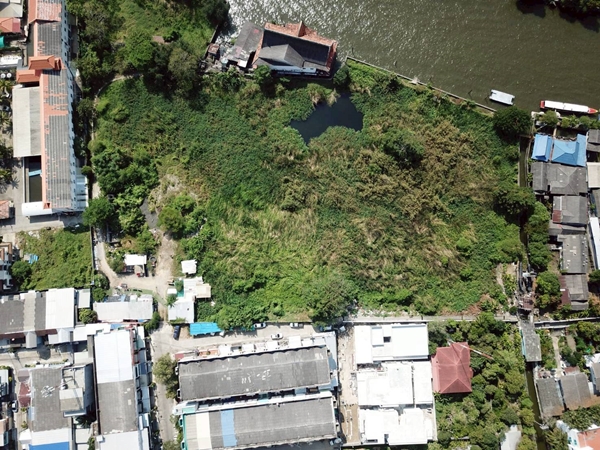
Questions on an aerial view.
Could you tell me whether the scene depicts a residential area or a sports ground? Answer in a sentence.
This looks like a residential area.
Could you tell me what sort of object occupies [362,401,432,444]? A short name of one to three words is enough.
building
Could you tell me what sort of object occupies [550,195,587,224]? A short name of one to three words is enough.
house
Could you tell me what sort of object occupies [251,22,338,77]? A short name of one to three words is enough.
house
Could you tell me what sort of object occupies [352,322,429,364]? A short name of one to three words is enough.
building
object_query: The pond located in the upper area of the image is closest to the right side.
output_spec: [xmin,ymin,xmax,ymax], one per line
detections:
[289,91,364,139]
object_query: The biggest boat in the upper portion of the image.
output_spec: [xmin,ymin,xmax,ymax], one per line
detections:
[538,100,598,115]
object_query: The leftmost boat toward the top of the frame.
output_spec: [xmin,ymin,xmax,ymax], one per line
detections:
[488,89,515,105]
